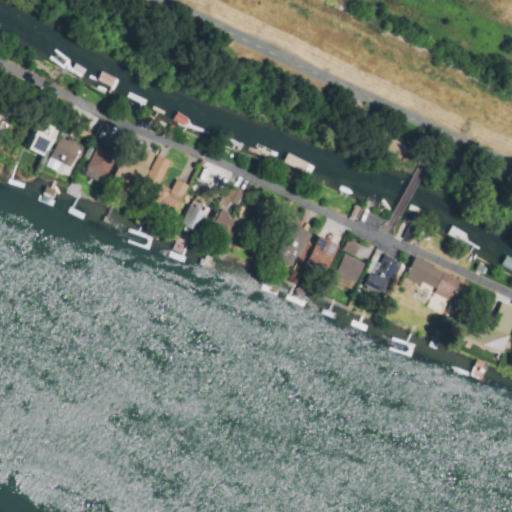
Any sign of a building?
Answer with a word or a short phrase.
Yes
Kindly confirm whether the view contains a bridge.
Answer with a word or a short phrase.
Yes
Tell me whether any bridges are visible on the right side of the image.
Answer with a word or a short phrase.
Yes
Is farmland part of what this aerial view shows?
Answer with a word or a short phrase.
No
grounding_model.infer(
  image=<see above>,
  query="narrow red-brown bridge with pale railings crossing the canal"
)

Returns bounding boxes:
[380,162,425,235]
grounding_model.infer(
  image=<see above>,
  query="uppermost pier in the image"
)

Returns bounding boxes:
[50,48,83,79]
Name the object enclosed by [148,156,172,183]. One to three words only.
house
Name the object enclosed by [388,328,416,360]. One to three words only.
pier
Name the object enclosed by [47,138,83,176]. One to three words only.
house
